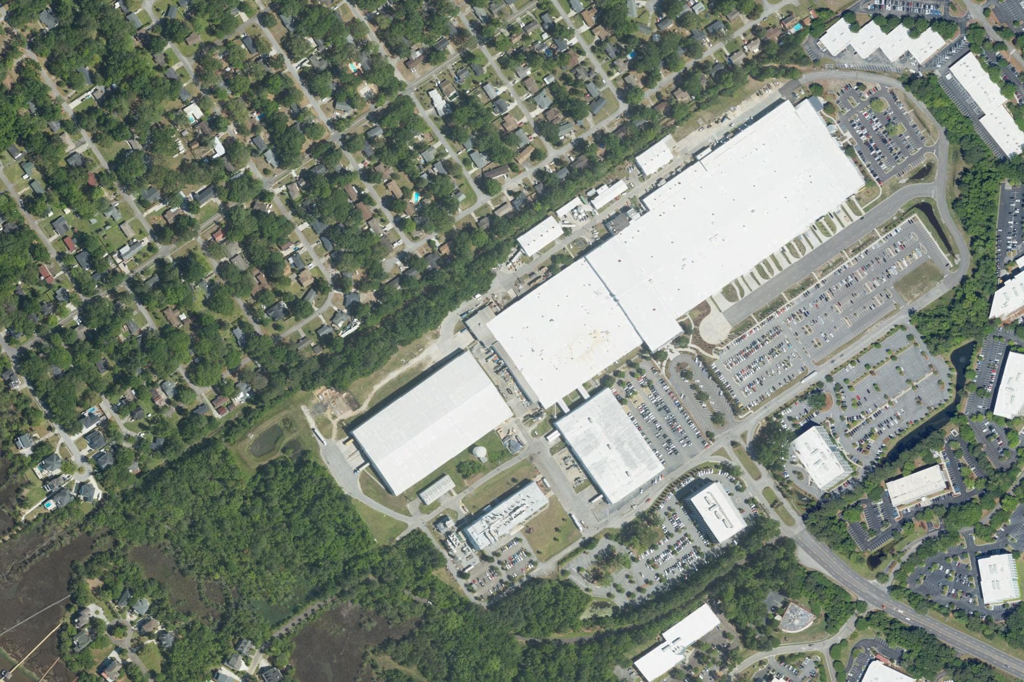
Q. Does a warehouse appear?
Yes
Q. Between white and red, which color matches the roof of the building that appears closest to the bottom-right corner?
white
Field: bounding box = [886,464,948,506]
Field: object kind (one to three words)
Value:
building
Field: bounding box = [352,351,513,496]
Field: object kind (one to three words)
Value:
warehouse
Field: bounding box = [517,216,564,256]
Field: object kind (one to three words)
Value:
shed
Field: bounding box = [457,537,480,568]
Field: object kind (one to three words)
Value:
house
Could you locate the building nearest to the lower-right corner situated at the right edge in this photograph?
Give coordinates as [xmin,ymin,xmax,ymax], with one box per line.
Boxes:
[975,552,1024,605]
